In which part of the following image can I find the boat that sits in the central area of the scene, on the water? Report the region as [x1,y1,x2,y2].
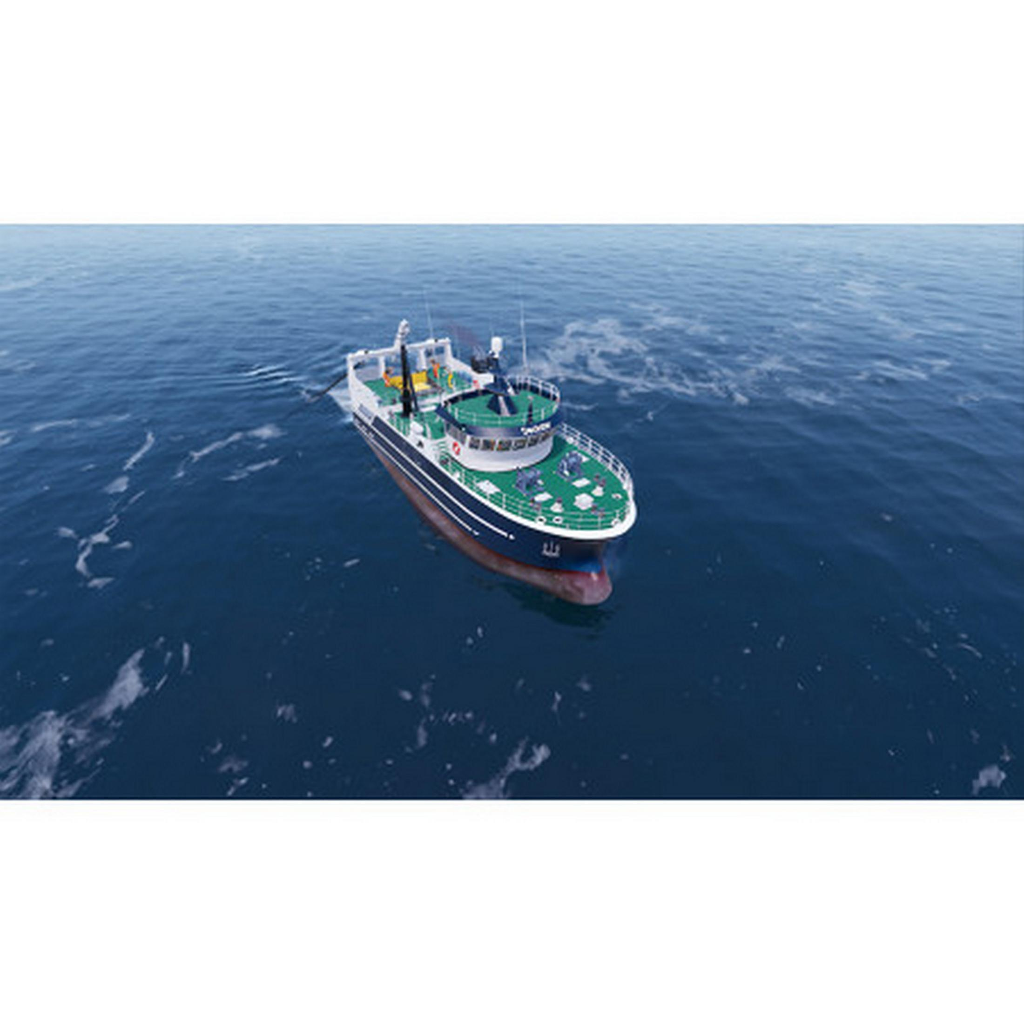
[346,293,640,603]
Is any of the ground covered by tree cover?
No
